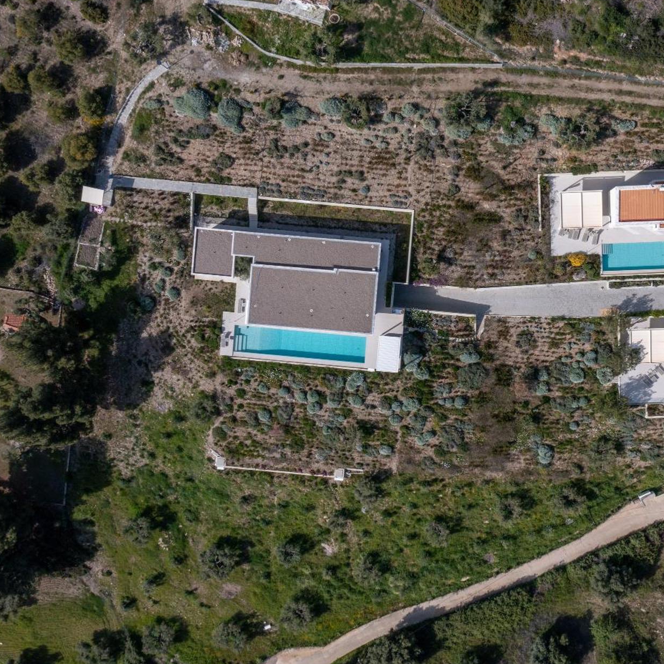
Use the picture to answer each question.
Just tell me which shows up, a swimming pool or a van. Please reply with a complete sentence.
Visible in the photo is a swimming pool.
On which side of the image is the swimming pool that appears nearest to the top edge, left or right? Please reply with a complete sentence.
The swimming pool that appears nearest to the top edge appears in the right half of the scene.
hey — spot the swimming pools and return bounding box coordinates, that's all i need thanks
[234,325,366,363]
[602,242,664,273]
